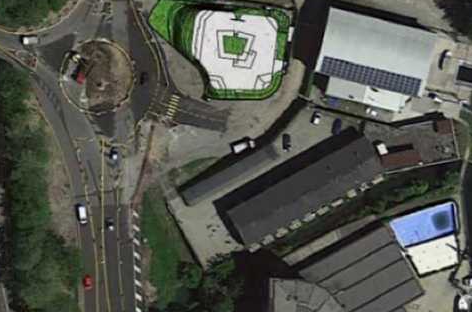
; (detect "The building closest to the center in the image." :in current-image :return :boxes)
[182,146,279,204]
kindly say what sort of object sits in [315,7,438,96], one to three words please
building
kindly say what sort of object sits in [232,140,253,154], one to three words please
vehicle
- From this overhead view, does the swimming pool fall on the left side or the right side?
right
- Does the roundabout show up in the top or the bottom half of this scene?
top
